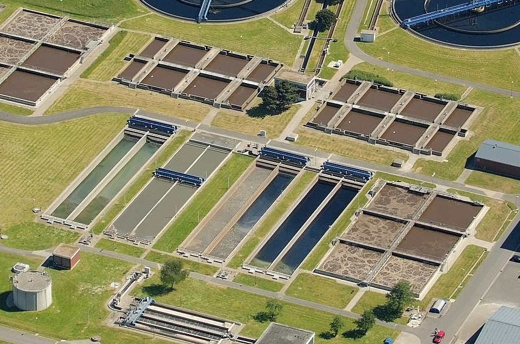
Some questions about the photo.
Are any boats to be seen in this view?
No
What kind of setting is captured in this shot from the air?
industrial area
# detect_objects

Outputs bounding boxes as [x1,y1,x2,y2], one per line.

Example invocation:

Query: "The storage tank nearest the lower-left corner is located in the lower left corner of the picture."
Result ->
[8,269,51,311]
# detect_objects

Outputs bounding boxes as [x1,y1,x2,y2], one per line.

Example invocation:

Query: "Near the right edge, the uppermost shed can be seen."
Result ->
[473,139,520,177]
